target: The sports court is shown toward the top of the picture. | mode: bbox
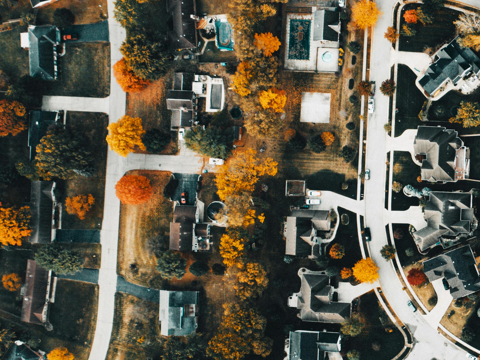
[300,92,330,122]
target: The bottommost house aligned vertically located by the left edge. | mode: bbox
[20,258,51,325]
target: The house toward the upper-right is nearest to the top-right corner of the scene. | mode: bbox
[418,36,480,95]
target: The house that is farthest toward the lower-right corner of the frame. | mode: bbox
[419,235,480,296]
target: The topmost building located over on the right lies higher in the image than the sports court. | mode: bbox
[314,7,342,43]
